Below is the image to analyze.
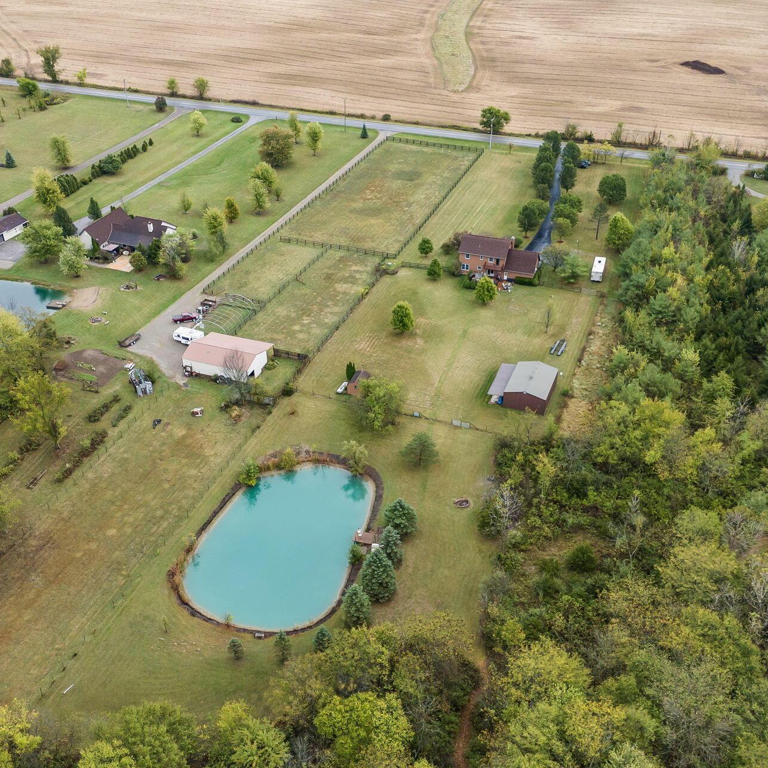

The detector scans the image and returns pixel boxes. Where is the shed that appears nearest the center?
[345,370,370,394]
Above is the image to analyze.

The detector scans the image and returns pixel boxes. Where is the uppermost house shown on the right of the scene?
[458,234,543,282]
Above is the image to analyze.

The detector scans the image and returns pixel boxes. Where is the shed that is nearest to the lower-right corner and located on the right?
[487,360,559,414]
